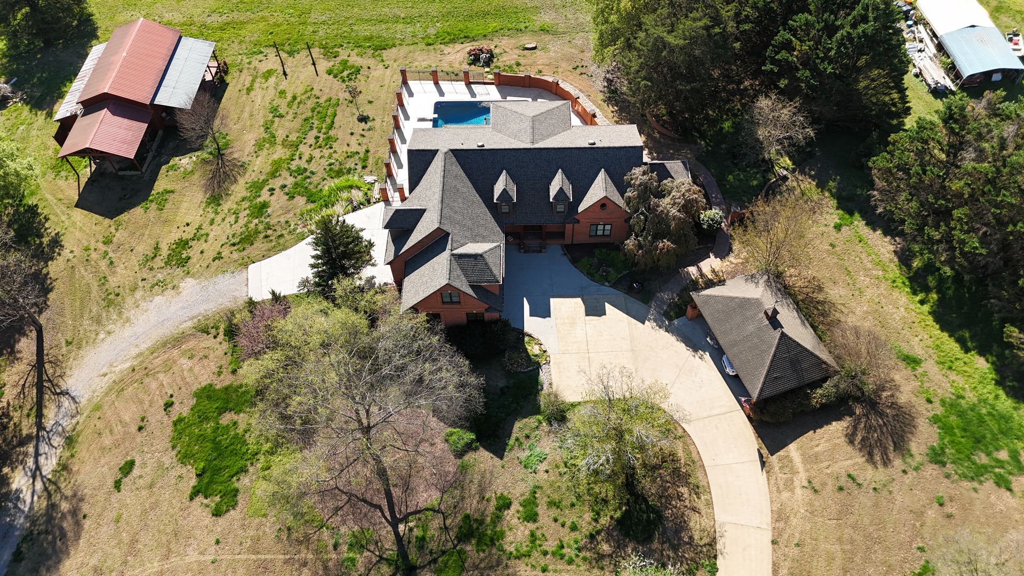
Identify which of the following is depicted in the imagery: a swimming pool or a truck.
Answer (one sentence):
Of the two, only a swimming pool appears.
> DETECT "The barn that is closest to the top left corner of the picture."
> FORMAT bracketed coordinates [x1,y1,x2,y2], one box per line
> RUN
[58,17,223,180]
